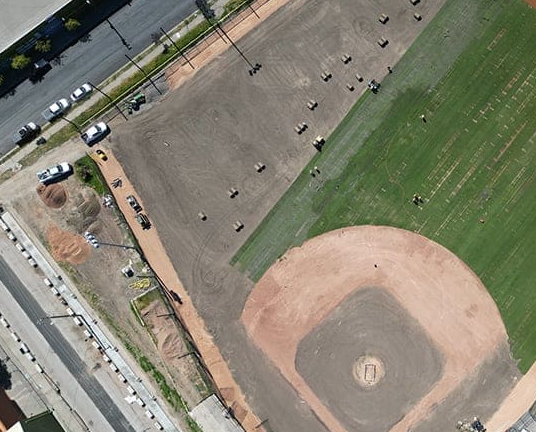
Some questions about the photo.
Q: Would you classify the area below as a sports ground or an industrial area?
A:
sports ground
